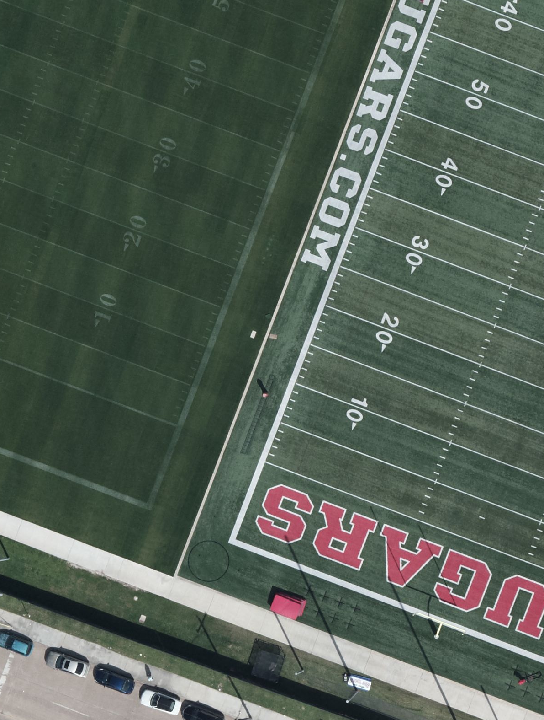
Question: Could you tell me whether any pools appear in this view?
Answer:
No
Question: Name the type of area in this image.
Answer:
sports ground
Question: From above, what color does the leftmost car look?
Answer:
blue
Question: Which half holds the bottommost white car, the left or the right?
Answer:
left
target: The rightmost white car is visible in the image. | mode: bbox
[139,689,182,715]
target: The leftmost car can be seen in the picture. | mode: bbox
[0,632,33,658]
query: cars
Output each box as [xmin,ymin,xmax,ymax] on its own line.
[92,666,135,694]
[0,632,33,658]
[180,703,226,720]
[44,650,91,679]
[139,689,182,715]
